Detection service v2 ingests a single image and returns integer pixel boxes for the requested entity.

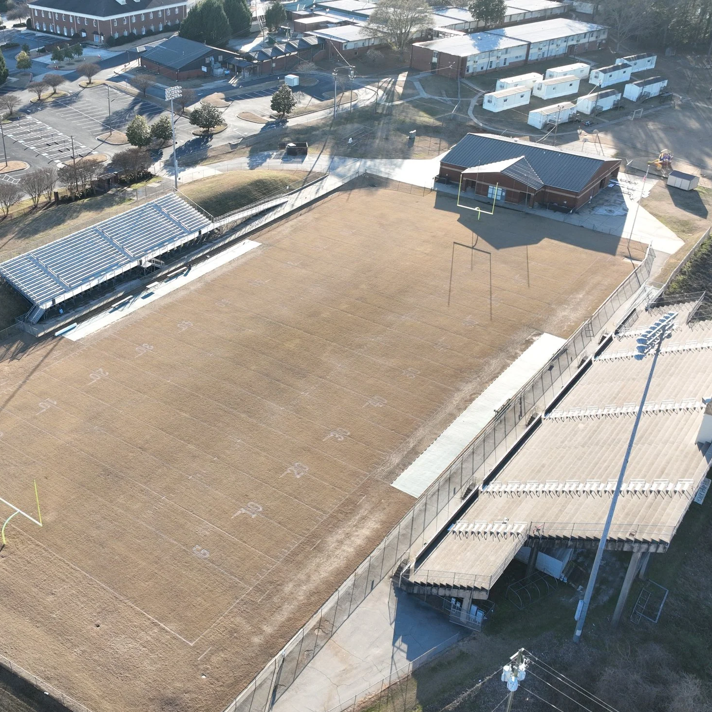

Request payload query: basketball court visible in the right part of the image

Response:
[565,128,618,150]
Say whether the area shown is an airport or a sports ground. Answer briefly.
sports ground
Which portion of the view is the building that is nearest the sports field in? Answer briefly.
top right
